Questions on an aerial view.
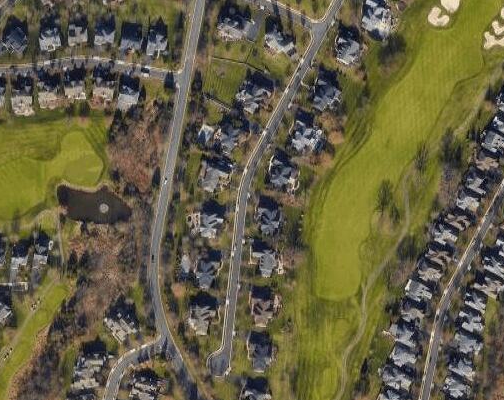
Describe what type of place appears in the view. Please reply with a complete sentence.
The picture captures a residential area.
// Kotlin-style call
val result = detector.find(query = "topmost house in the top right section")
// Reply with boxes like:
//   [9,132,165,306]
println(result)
[361,0,397,37]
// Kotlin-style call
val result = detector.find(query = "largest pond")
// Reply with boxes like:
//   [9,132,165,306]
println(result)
[57,184,132,225]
